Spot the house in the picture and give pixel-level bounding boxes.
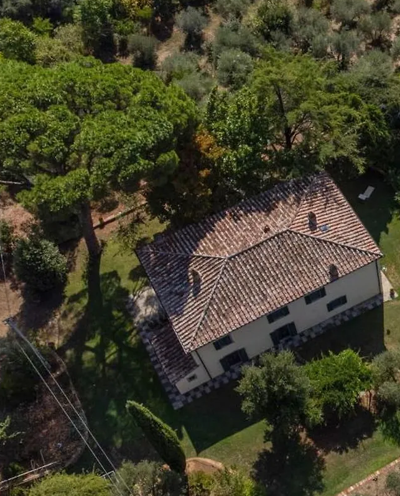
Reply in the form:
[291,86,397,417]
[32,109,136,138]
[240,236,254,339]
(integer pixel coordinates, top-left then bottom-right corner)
[135,167,385,394]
